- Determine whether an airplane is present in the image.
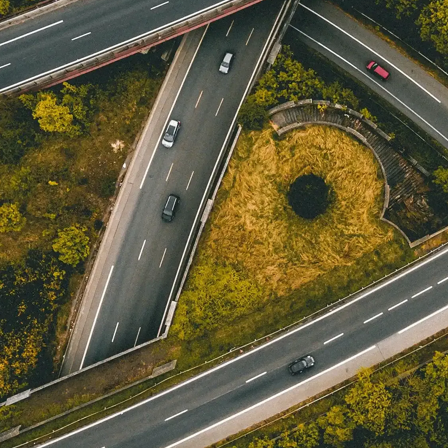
No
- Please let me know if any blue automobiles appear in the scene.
No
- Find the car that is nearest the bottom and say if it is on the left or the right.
right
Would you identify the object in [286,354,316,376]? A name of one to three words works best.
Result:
car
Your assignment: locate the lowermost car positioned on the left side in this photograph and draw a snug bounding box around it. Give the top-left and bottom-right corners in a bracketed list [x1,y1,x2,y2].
[161,193,179,222]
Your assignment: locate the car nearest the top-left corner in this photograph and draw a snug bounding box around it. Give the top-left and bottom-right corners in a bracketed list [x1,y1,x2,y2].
[162,120,180,147]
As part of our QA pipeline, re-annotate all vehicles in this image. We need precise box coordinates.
[366,61,390,80]
[162,120,180,147]
[286,354,316,376]
[219,51,235,75]
[161,193,179,222]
